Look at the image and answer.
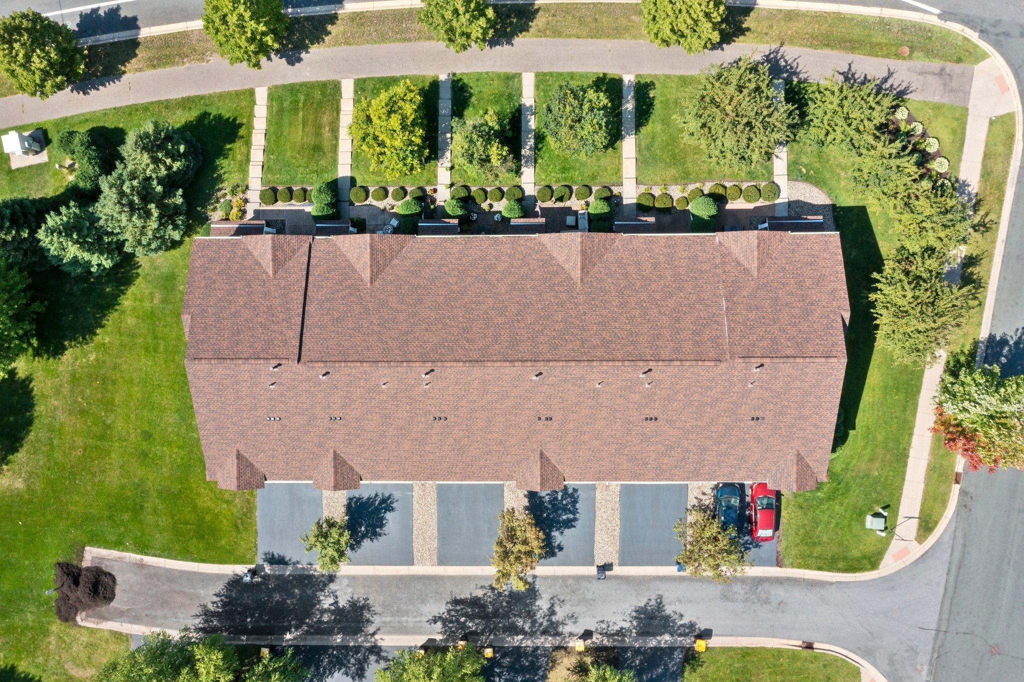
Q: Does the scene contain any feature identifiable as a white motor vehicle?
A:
No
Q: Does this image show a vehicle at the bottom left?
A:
No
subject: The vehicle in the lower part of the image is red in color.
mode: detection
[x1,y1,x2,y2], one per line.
[748,484,780,542]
